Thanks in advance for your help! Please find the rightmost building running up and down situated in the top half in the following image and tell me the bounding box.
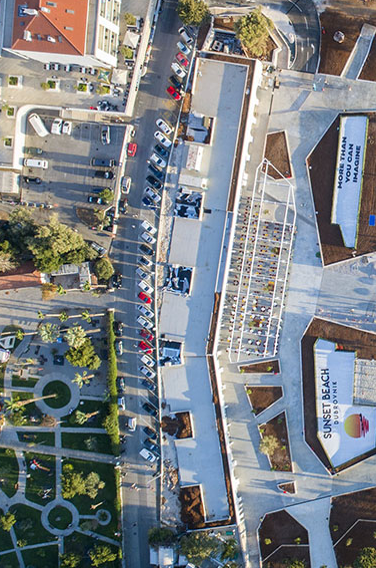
[305,109,376,265]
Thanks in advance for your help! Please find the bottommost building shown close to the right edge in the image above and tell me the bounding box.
[299,317,376,477]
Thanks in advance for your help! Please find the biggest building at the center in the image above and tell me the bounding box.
[160,55,263,532]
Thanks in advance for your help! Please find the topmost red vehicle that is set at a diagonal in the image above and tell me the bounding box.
[175,52,191,67]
